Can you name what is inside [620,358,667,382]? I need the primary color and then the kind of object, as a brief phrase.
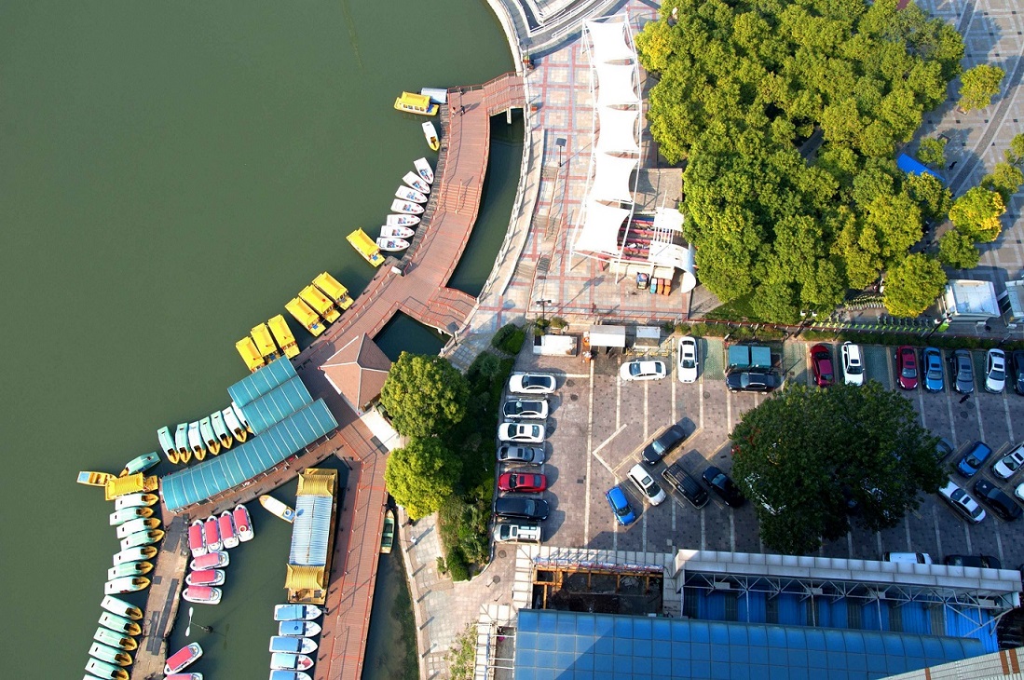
white car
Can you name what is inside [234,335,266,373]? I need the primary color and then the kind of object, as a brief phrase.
yellow boat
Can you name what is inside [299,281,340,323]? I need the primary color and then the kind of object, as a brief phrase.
yellow boat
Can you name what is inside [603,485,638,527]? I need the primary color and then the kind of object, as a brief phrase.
blue car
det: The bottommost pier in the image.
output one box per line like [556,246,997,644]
[131,639,168,680]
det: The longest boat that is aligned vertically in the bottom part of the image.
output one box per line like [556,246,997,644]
[284,466,337,603]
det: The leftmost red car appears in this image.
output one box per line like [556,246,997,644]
[498,469,547,493]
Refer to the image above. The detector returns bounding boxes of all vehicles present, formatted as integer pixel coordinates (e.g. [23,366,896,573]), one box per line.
[1006,350,1024,397]
[839,342,867,385]
[494,519,543,545]
[495,496,549,521]
[973,479,1024,524]
[726,370,779,394]
[881,549,933,565]
[956,438,995,480]
[498,469,547,493]
[624,462,668,508]
[944,549,1003,570]
[503,397,549,421]
[677,337,700,384]
[894,346,921,390]
[661,461,709,510]
[950,350,977,395]
[947,479,985,525]
[498,442,545,466]
[990,437,1024,480]
[509,372,556,395]
[603,485,638,527]
[1010,558,1024,580]
[983,348,1009,394]
[640,422,687,465]
[810,343,836,388]
[620,358,667,382]
[701,466,740,509]
[498,420,544,444]
[921,347,947,393]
